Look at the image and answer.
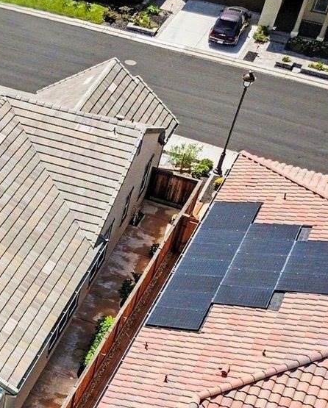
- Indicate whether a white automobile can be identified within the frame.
No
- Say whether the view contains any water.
No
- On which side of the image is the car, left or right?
right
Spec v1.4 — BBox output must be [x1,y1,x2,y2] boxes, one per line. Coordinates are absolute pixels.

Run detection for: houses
[0,57,182,408]
[97,149,328,408]
[194,0,328,37]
